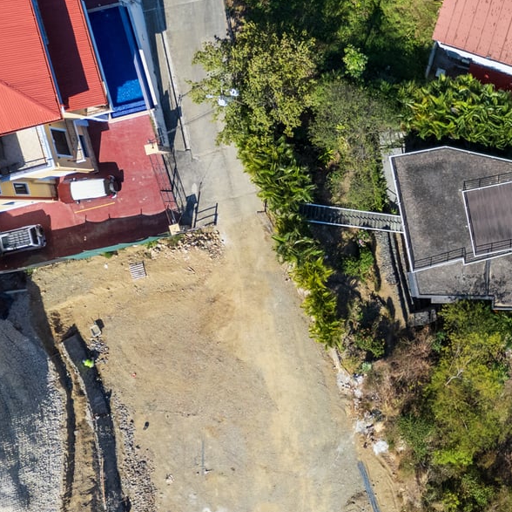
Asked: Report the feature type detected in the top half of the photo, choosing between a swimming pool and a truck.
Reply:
swimming pool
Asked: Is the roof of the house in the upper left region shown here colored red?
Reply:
Yes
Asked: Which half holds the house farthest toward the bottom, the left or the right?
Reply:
right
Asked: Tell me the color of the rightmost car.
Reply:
white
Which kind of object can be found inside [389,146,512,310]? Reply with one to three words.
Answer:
house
